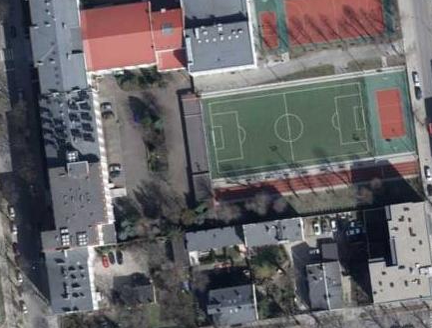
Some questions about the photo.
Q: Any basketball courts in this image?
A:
Yes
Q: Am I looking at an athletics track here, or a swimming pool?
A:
athletics track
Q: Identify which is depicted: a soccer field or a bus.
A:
soccer field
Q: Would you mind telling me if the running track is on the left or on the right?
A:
right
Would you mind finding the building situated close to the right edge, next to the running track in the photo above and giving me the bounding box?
[368,201,432,303]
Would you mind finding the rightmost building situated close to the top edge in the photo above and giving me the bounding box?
[181,0,255,74]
